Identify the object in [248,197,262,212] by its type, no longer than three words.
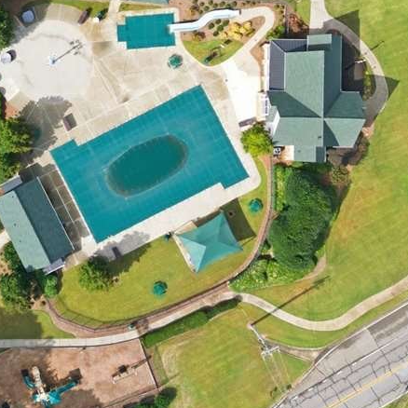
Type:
umbrella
